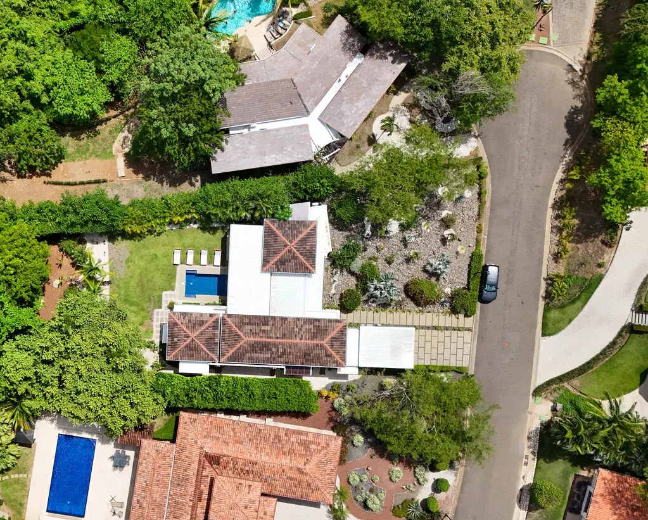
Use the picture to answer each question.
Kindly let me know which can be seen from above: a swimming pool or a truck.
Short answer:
swimming pool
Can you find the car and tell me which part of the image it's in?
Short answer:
right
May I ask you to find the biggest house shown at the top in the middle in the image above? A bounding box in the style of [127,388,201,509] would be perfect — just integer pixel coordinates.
[208,14,411,174]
